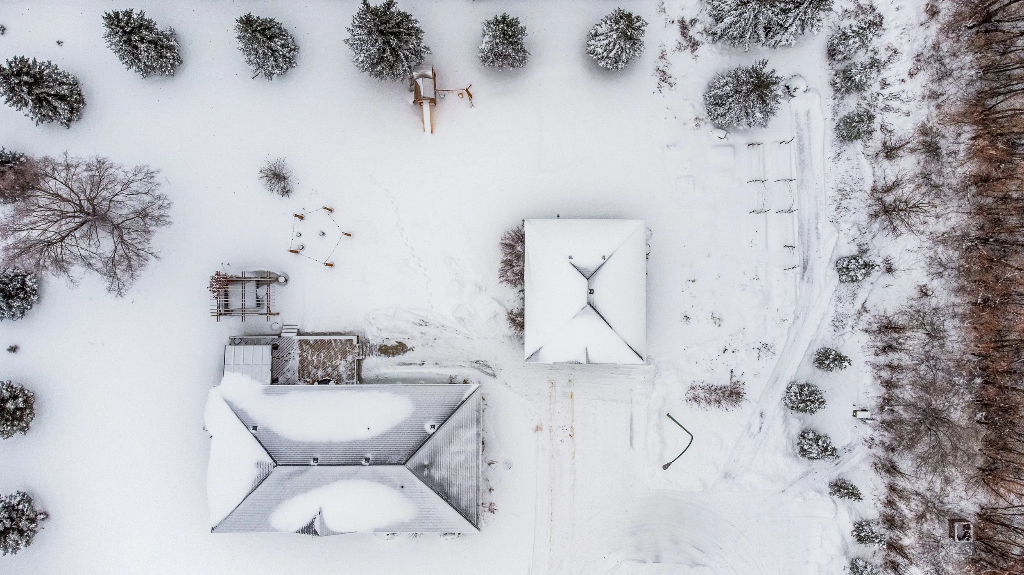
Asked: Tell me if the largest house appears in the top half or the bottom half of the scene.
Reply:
bottom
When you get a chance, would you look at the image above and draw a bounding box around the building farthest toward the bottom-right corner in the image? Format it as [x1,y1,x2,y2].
[523,214,647,366]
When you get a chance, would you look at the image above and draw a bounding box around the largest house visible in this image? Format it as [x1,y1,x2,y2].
[204,345,481,538]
